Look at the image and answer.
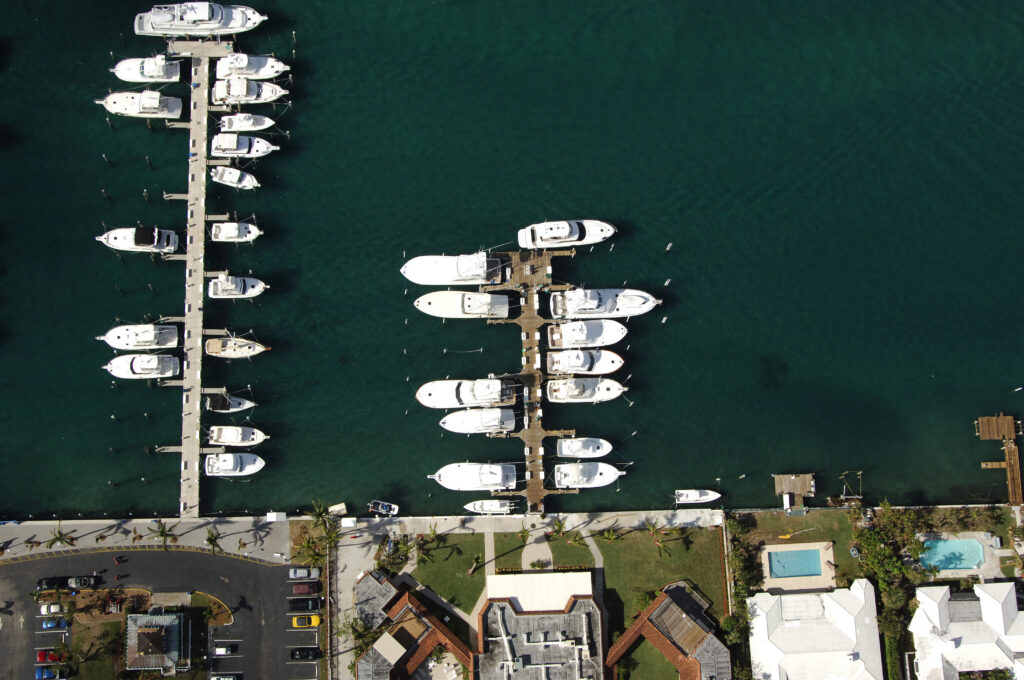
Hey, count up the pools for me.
two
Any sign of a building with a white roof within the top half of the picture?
No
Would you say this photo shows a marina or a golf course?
marina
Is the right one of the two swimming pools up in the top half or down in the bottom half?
bottom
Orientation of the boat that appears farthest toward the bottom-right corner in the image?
from left to right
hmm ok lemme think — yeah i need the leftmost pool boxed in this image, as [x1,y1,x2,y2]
[761,542,835,593]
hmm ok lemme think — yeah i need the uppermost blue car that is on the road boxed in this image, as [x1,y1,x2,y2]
[41,617,68,630]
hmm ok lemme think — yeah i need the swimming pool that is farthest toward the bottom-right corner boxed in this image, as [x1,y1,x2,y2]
[901,532,1004,584]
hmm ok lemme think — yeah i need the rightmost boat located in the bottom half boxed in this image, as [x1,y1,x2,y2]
[671,479,722,504]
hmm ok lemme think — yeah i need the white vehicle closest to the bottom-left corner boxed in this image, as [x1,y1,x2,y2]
[39,603,64,616]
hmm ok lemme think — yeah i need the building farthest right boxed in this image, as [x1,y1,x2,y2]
[907,582,1024,680]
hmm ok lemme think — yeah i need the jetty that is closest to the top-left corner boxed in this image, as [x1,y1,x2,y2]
[156,41,233,519]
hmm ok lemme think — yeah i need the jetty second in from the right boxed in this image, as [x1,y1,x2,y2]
[769,473,814,516]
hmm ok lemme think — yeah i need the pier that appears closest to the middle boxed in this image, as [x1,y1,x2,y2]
[480,251,578,516]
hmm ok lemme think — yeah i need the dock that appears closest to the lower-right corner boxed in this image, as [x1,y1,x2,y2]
[971,413,1024,506]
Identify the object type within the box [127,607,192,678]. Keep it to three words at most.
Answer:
building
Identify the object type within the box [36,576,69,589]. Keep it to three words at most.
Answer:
vehicle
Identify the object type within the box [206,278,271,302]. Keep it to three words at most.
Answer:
boat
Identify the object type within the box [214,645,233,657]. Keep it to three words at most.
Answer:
vehicle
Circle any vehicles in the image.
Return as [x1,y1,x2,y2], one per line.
[289,567,320,580]
[67,576,96,589]
[210,674,235,680]
[36,576,69,589]
[292,582,323,596]
[288,598,321,611]
[34,668,63,680]
[39,603,64,616]
[41,617,68,630]
[37,650,66,663]
[292,614,321,628]
[214,645,233,657]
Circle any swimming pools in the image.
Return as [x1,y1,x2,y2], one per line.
[901,532,1004,584]
[761,542,835,593]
